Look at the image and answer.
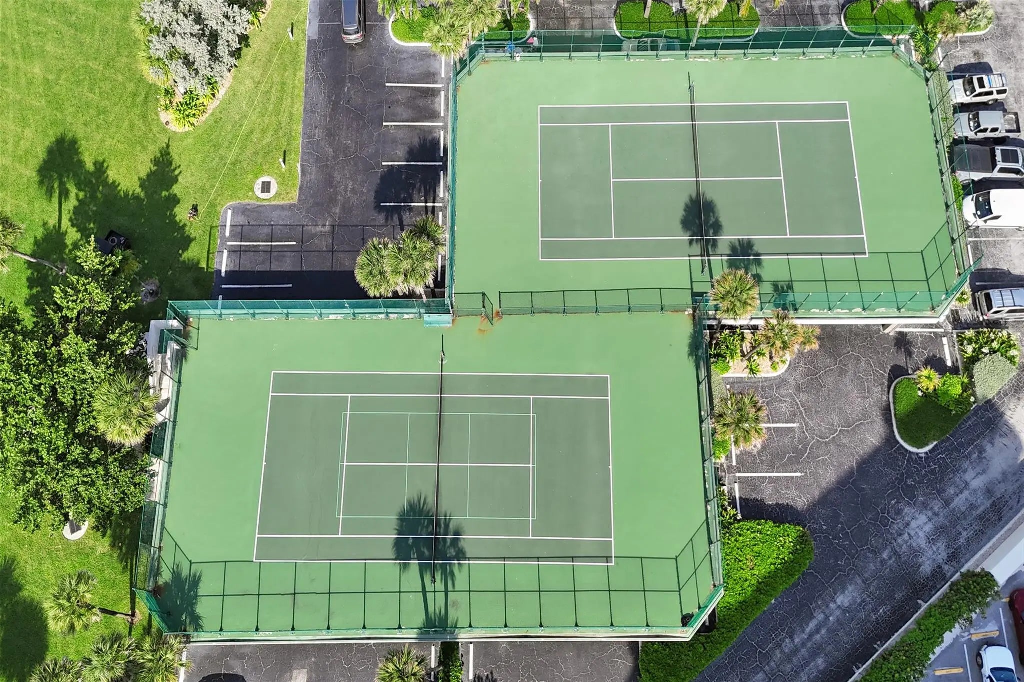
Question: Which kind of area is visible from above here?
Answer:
sports ground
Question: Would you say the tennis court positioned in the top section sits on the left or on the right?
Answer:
right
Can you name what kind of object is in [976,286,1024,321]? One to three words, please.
car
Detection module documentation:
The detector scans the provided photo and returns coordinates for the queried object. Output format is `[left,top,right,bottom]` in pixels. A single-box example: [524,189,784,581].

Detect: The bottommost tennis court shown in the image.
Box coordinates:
[155,315,714,631]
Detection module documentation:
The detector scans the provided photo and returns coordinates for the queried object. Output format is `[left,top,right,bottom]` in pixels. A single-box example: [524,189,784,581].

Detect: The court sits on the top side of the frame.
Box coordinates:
[453,52,960,316]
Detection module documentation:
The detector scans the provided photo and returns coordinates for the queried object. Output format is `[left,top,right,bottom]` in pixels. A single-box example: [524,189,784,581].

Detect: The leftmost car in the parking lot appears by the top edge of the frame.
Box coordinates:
[339,0,366,40]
